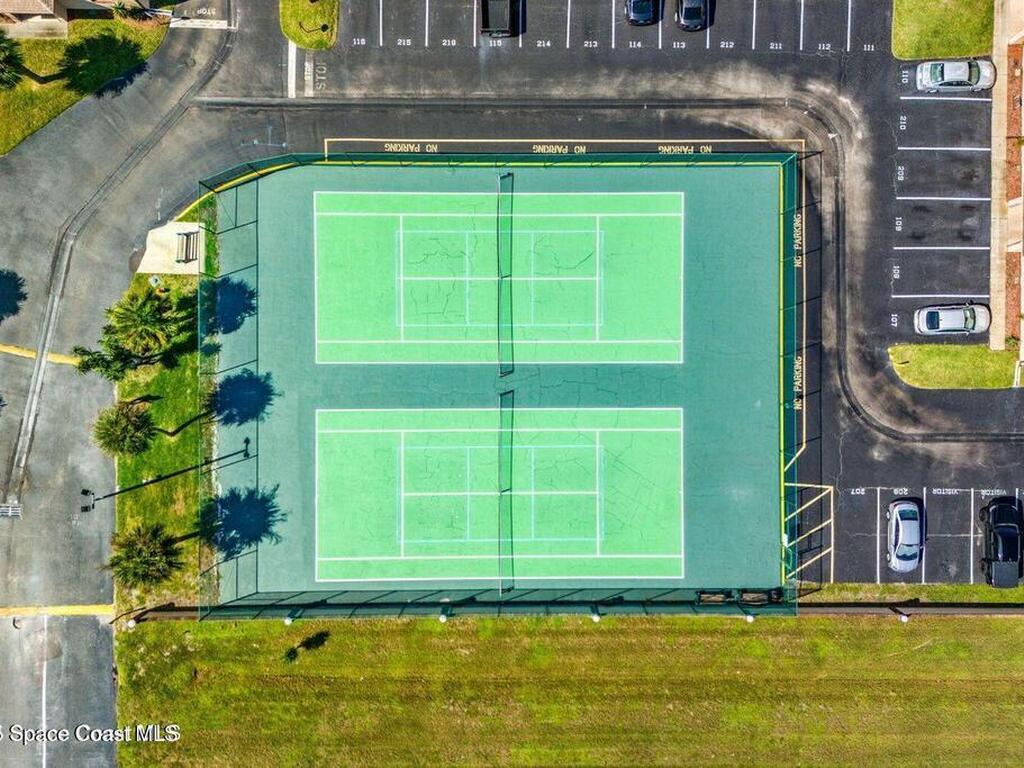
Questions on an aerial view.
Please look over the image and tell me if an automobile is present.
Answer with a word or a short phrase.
Yes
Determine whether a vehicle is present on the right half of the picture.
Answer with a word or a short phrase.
Yes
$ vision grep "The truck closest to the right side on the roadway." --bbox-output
[977,499,1024,590]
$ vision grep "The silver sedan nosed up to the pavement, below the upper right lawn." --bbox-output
[916,55,993,94]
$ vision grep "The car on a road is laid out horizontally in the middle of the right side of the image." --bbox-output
[913,301,989,337]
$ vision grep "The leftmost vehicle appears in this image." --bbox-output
[479,0,513,39]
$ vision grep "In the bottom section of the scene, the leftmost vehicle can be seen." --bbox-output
[885,500,925,571]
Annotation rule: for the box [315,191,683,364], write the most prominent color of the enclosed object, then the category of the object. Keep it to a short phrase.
green tennis court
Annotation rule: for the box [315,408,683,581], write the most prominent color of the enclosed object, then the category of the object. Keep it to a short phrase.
green tennis court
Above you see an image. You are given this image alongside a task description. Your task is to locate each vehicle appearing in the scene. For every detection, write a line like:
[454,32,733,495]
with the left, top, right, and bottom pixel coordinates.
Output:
[624,0,655,27]
[479,0,513,39]
[916,55,993,94]
[676,0,706,33]
[913,301,989,337]
[977,499,1024,590]
[885,500,925,571]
